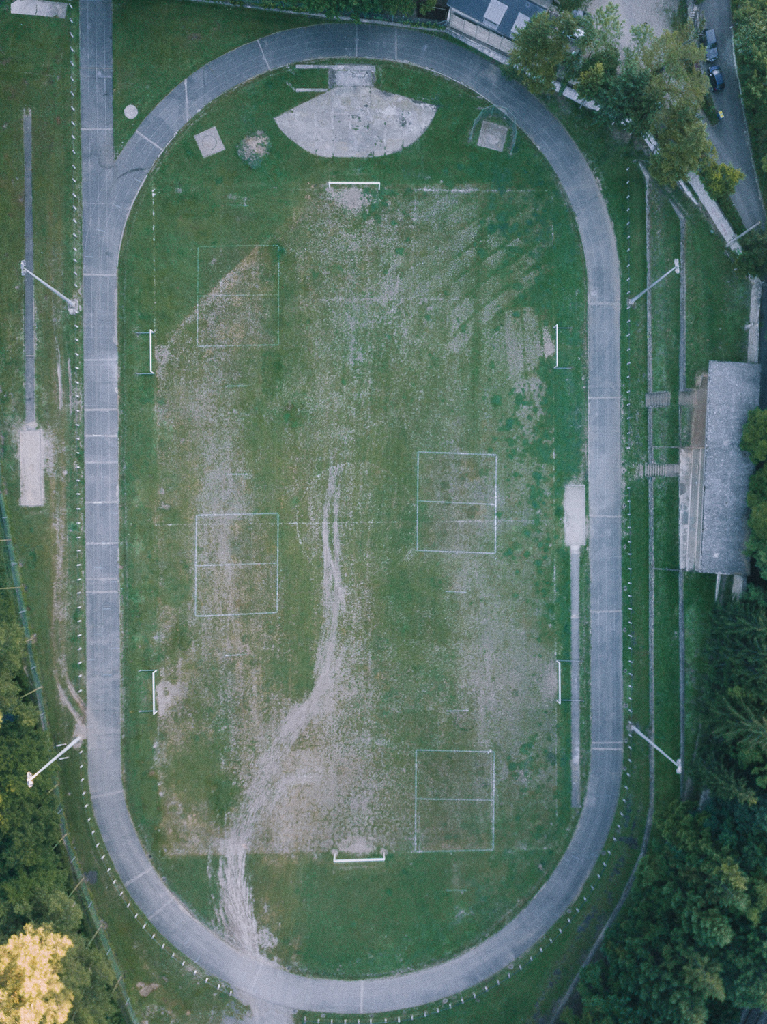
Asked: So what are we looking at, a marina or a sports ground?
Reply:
sports ground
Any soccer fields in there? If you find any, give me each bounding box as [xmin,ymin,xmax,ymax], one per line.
[116,57,592,981]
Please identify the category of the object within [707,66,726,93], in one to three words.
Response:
car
